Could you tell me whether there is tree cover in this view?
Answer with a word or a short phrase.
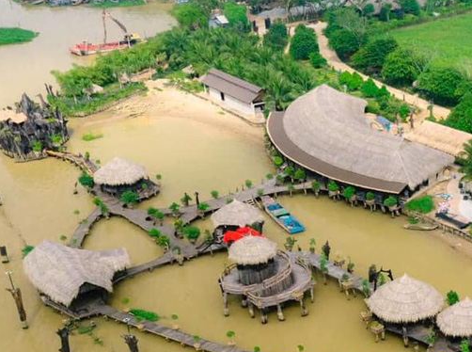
Yes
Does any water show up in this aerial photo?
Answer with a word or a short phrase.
Yes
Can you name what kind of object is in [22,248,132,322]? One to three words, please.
building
